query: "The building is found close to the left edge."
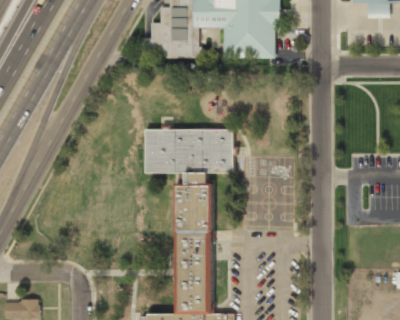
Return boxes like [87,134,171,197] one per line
[4,299,41,320]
